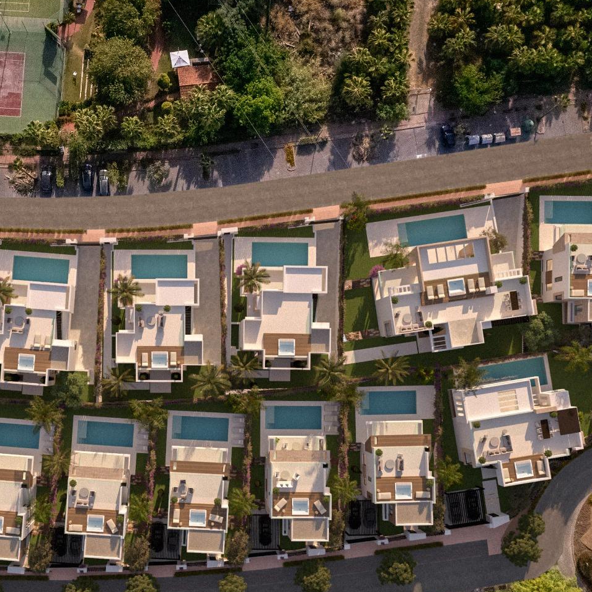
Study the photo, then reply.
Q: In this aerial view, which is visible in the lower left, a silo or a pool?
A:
pool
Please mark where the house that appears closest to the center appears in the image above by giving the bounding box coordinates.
[238,266,331,370]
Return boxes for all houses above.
[166,443,237,557]
[366,237,538,351]
[361,419,437,528]
[0,452,45,563]
[265,434,337,543]
[64,448,140,562]
[115,280,205,385]
[538,222,592,331]
[435,376,587,484]
[238,266,331,370]
[0,280,80,386]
